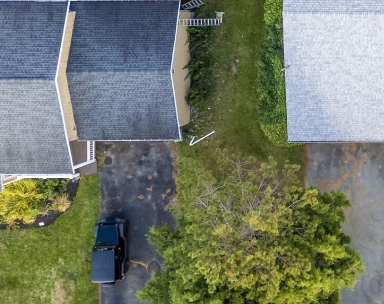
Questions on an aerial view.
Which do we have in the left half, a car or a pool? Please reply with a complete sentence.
There is a car in the left half.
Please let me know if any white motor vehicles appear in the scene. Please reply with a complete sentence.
No, no white motor vehicle can be seen from above.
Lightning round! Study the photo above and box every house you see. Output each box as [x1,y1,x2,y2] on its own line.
[282,0,384,143]
[0,0,192,191]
